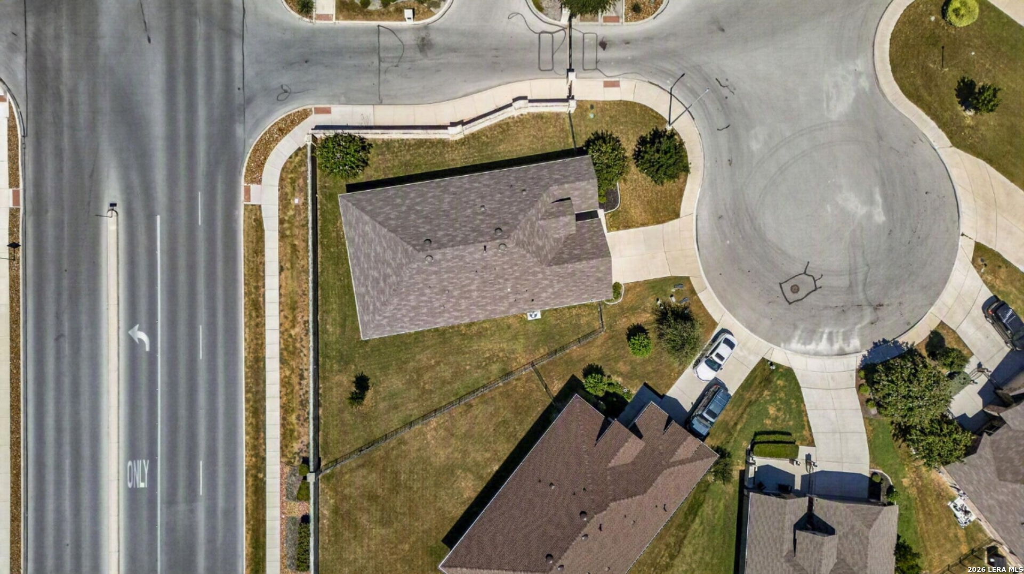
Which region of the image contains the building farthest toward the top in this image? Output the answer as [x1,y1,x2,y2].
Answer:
[339,153,613,340]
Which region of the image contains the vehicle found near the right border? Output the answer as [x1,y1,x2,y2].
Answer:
[986,299,1024,354]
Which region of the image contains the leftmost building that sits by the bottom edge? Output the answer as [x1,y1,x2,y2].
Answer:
[436,393,720,574]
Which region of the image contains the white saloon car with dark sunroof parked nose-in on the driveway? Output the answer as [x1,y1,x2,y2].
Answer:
[695,328,741,381]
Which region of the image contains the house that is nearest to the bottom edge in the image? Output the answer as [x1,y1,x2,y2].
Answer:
[739,489,898,574]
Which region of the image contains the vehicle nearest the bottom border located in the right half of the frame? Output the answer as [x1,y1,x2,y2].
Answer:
[687,385,735,439]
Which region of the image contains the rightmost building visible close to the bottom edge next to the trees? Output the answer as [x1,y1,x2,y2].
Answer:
[938,403,1024,574]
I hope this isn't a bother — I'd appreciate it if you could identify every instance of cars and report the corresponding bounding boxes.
[695,328,741,381]
[986,299,1024,354]
[687,385,735,439]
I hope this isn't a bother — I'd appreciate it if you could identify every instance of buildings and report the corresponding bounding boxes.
[739,489,898,574]
[938,403,1024,574]
[436,393,720,574]
[339,153,613,340]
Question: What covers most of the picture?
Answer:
paved ground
